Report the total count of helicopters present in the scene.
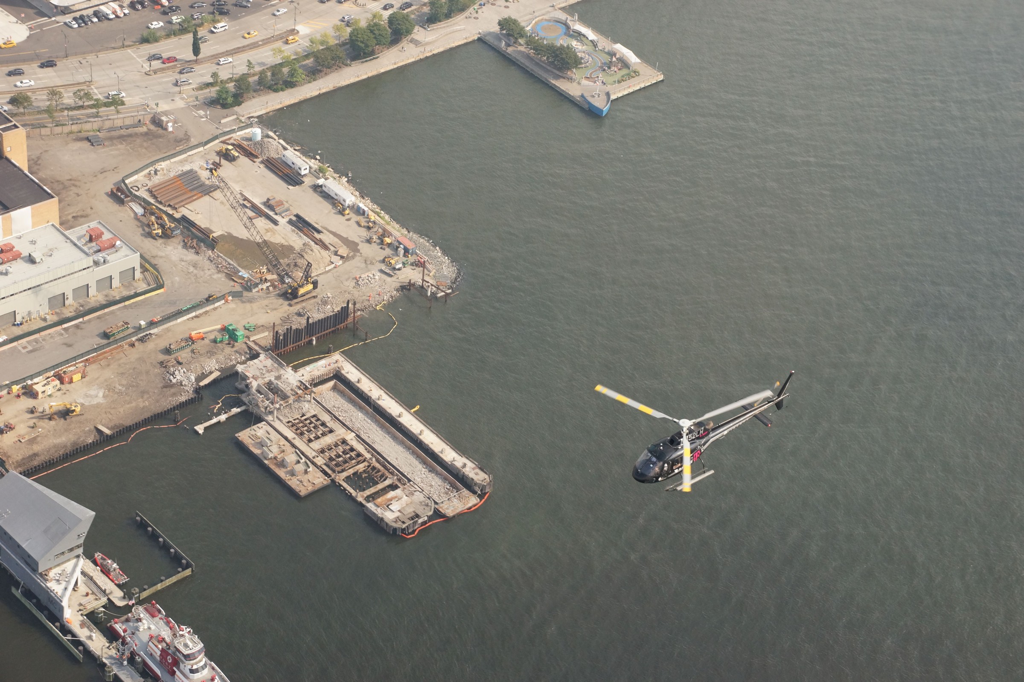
1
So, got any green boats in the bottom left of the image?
No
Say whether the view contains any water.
Yes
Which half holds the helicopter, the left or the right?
right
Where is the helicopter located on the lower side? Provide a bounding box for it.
[596,368,798,494]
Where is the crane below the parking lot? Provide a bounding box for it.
[209,166,324,303]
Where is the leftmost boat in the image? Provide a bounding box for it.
[95,553,129,587]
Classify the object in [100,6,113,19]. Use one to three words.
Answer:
vehicle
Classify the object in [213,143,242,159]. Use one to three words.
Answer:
work vehicle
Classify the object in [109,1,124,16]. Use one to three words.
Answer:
vehicle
